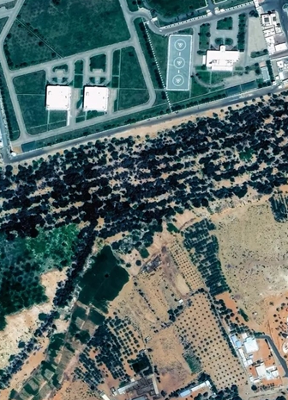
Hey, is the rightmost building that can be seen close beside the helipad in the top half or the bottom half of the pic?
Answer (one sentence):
The rightmost building that can be seen close beside the helipad sits in the top half of the picture.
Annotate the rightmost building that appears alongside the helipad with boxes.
[207,50,240,70]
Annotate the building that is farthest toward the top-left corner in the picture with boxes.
[46,85,70,111]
